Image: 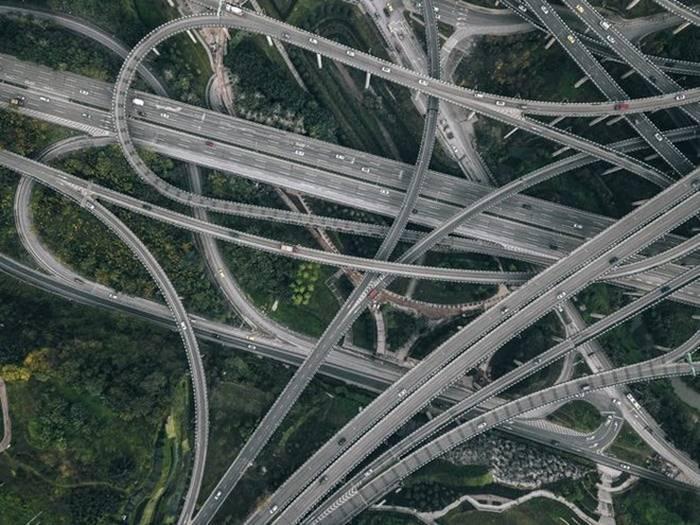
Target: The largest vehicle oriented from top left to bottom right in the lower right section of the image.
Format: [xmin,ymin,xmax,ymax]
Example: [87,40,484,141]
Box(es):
[628,395,646,416]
